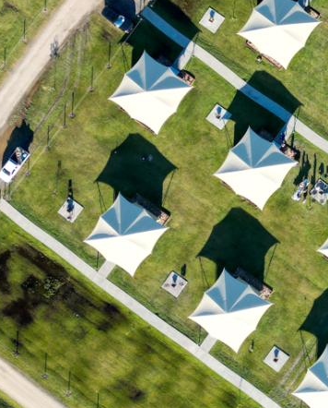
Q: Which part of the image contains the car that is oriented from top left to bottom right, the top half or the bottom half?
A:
top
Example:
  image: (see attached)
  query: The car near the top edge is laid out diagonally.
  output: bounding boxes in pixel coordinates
[102,5,133,31]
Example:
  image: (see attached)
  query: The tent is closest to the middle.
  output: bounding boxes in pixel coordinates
[89,181,189,278]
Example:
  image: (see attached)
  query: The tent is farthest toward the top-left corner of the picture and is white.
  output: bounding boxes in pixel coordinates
[113,44,211,144]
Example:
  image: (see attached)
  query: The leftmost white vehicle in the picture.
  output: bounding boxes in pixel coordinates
[0,149,28,180]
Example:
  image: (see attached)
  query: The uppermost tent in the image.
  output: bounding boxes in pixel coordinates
[237,0,328,77]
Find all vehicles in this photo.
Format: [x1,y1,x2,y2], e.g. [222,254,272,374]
[0,149,28,180]
[102,5,133,31]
